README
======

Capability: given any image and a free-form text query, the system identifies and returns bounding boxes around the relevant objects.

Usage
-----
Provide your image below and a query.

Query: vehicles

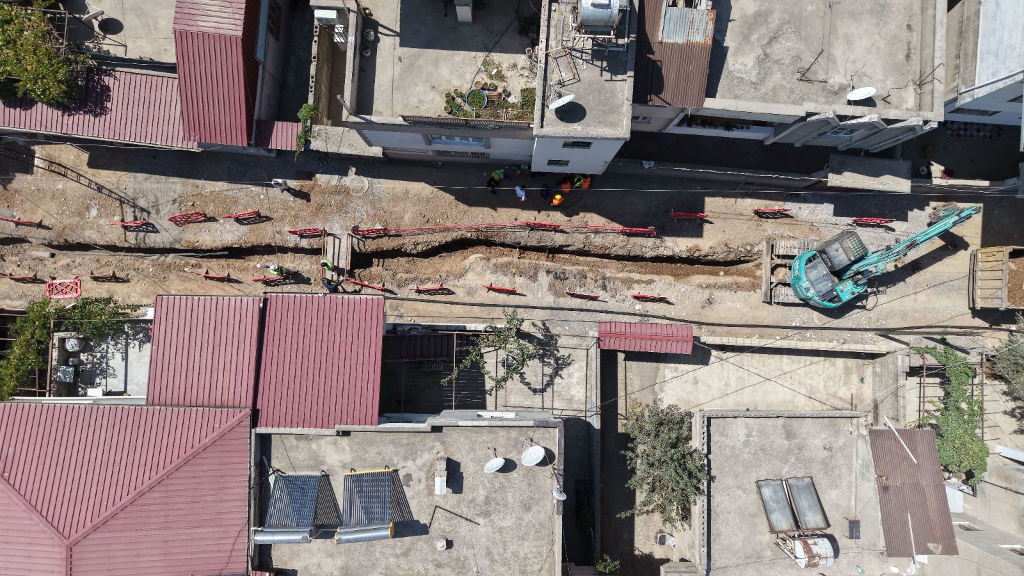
[959,249,1024,307]
[760,192,988,309]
